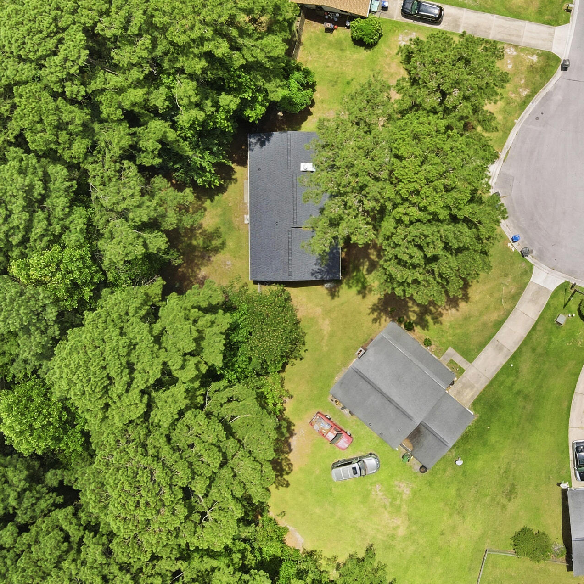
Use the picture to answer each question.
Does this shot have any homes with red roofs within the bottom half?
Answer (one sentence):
No, there is no home with a red roof within the bottom half.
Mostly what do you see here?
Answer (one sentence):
Most of the picture is covered by trees.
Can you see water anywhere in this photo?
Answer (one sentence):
No, the scene doesn't show any water.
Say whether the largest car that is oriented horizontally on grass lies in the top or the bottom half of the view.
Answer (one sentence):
It is in the bottom half that the largest car that is oriented horizontally on grass appears.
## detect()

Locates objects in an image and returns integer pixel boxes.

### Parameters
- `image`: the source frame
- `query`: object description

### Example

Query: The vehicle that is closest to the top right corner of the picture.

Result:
[400,0,445,25]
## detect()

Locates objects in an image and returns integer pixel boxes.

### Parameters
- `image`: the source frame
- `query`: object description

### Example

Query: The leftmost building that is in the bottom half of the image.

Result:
[330,322,474,470]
